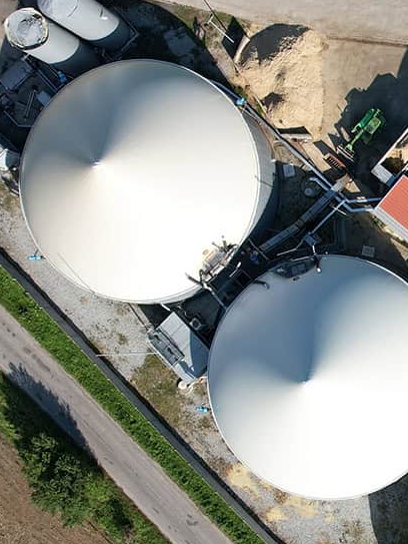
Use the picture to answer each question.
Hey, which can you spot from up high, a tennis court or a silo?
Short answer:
silo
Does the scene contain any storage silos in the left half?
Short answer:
Yes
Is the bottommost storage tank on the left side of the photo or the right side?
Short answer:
right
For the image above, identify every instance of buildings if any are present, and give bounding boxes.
[367,172,408,251]
[156,312,214,390]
